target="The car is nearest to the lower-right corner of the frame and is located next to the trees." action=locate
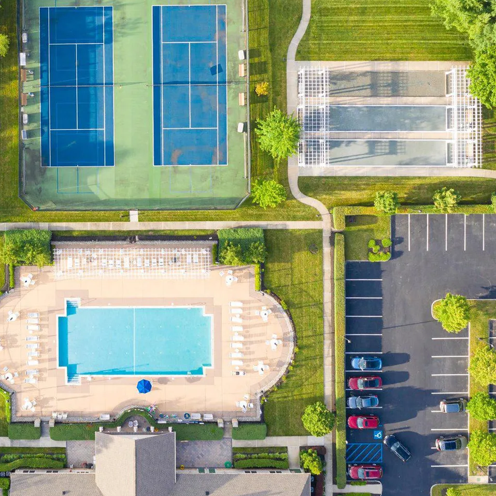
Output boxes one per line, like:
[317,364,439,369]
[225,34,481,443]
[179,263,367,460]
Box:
[434,436,466,451]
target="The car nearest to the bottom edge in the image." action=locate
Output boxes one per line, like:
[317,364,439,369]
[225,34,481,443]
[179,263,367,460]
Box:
[348,465,383,482]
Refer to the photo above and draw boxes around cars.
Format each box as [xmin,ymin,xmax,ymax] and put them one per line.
[437,399,467,414]
[434,436,466,451]
[347,414,380,430]
[347,395,379,410]
[383,432,412,465]
[348,376,381,392]
[351,356,382,371]
[348,465,383,482]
